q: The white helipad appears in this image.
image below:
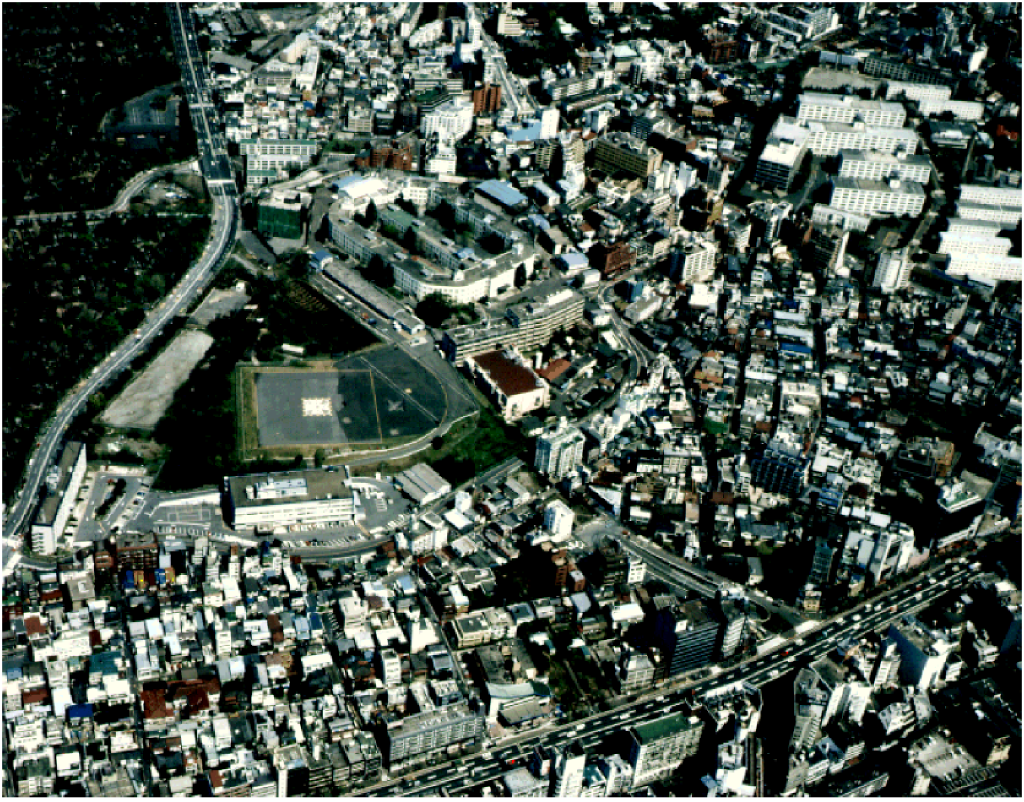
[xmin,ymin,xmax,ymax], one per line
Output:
[299,396,335,417]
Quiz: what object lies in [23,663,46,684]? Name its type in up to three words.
house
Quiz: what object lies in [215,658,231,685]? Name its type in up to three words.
house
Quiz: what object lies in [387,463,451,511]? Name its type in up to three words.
building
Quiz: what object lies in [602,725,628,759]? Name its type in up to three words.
building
